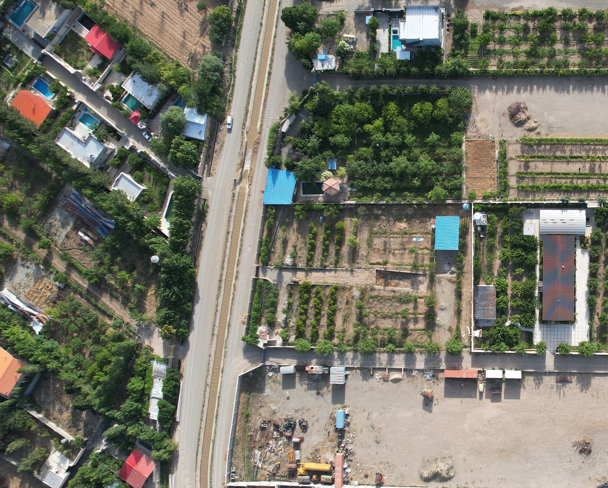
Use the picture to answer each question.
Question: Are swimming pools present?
Yes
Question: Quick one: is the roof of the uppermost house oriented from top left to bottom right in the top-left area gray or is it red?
red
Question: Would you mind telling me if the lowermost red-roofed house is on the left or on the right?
left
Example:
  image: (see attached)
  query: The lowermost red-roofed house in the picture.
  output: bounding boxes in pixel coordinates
[118,447,161,488]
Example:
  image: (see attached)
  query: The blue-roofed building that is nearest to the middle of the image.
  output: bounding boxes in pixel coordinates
[262,168,299,204]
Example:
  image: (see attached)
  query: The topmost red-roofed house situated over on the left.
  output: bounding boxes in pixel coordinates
[85,25,121,61]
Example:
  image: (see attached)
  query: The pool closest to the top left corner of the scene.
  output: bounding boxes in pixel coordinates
[6,0,36,28]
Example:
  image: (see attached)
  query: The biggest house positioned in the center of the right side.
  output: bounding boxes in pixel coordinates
[543,236,574,320]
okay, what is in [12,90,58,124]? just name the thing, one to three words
house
